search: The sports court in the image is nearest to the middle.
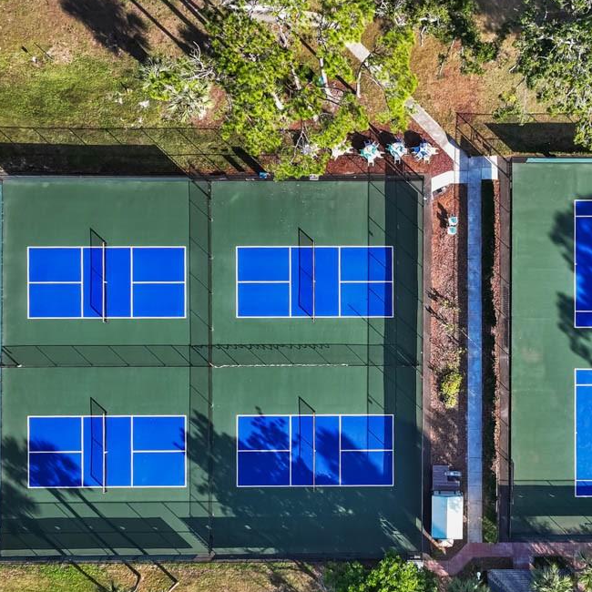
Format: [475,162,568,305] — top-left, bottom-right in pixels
[211,182,424,367]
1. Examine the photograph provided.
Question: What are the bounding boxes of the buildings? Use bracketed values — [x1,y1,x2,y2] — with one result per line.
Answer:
[433,492,464,541]
[488,565,556,592]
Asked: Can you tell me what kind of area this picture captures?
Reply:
sports ground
